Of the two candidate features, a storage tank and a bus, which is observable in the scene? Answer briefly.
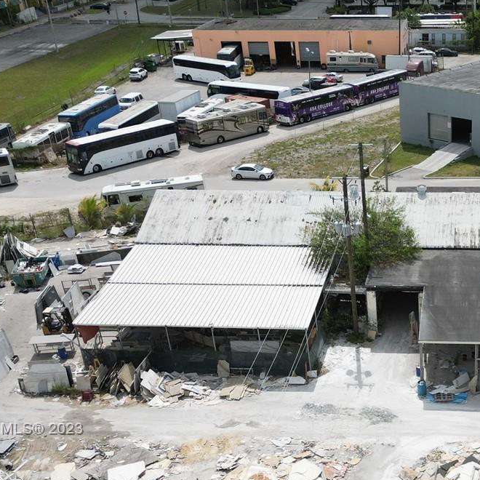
bus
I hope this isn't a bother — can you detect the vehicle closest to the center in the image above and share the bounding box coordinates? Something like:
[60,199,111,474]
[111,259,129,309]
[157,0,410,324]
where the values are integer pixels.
[230,162,273,179]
